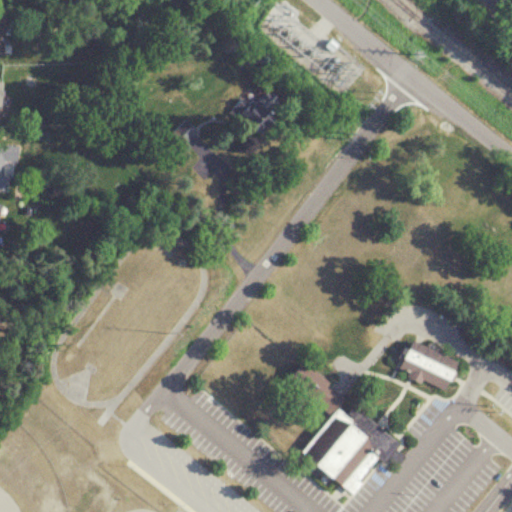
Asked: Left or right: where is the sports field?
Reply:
left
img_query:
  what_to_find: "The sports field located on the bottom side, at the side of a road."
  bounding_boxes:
[52,238,206,426]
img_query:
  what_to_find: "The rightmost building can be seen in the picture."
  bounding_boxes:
[402,342,460,390]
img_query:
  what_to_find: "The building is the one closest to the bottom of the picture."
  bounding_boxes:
[303,408,381,496]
